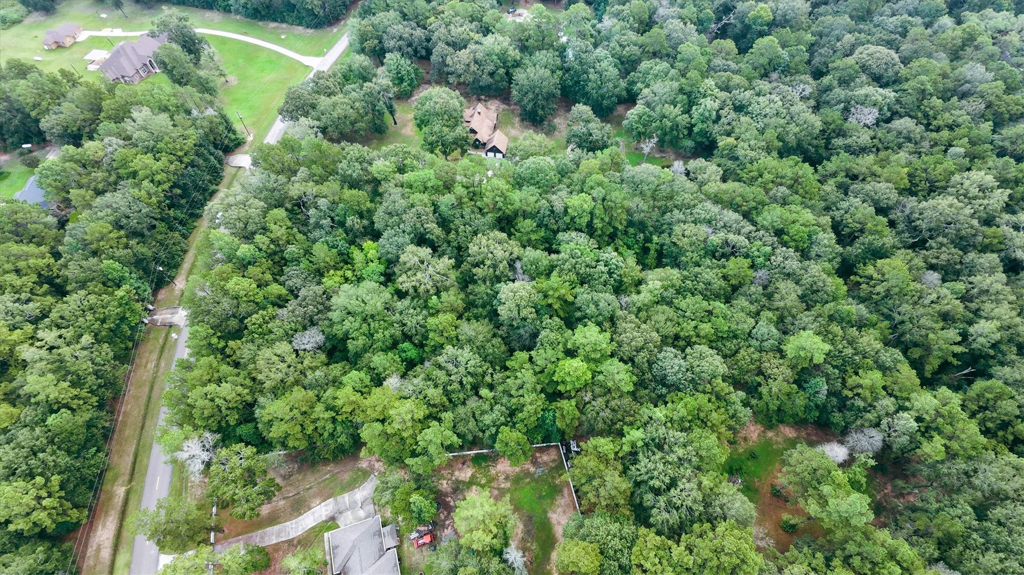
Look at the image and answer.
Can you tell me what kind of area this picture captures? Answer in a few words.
forest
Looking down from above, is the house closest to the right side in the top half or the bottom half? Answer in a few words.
top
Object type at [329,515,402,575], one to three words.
house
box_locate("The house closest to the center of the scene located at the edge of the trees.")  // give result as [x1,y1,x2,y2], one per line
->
[464,103,508,159]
